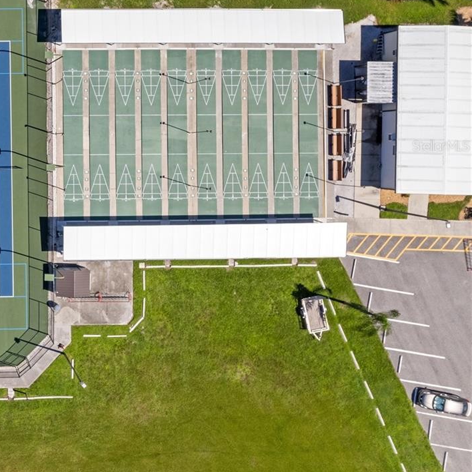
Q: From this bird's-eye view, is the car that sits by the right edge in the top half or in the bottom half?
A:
bottom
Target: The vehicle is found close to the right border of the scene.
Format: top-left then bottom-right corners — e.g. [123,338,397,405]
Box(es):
[417,387,472,416]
